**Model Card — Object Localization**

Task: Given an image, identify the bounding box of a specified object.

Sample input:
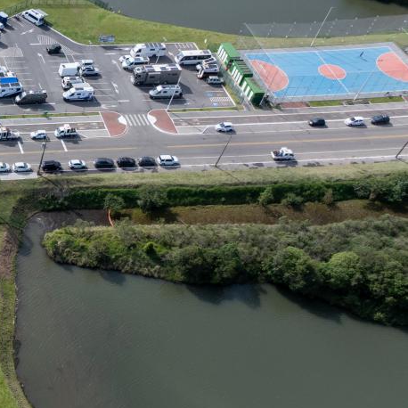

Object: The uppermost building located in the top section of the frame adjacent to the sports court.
[216,40,243,67]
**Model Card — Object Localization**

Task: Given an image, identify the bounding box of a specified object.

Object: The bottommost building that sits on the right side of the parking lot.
[240,76,269,106]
